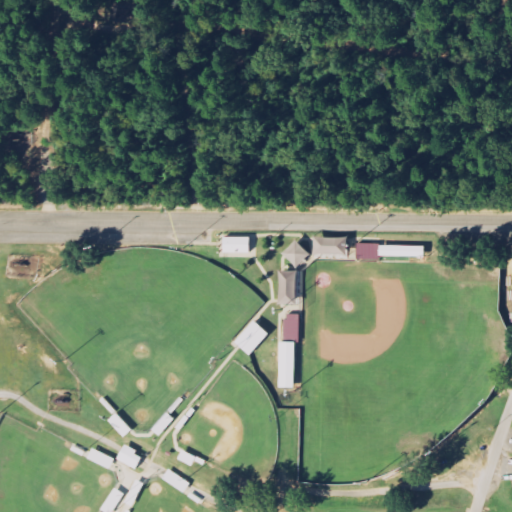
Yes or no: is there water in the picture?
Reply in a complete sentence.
No, the picture contains no water.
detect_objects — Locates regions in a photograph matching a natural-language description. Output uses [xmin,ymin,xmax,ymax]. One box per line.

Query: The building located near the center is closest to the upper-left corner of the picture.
[222,236,250,252]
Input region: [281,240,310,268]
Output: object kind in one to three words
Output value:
building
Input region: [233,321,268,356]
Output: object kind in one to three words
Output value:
building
